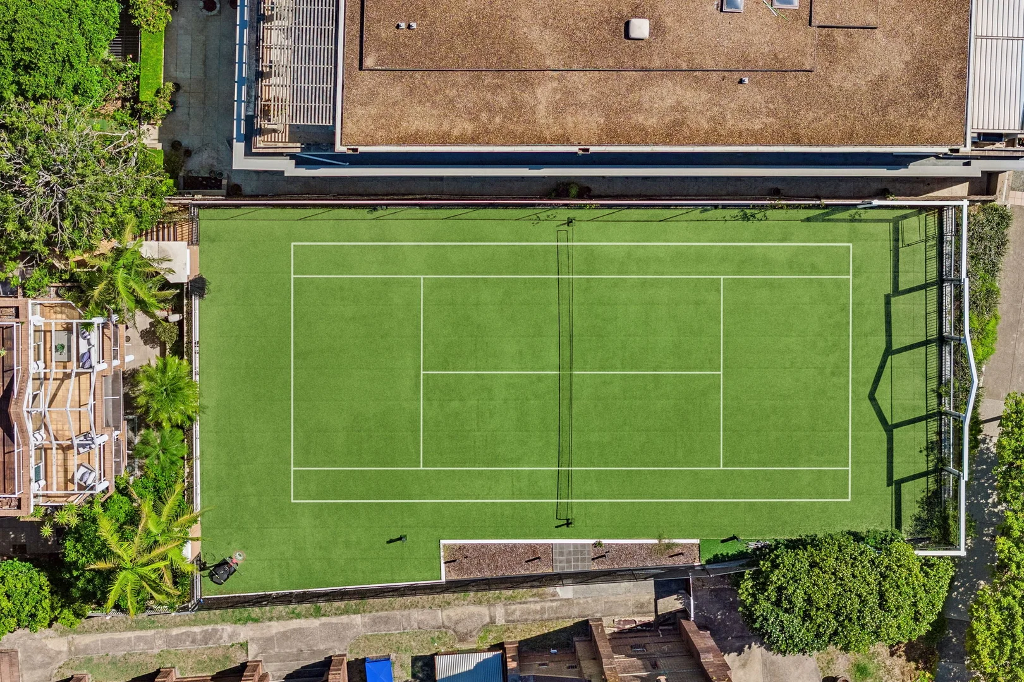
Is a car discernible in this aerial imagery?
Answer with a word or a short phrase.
No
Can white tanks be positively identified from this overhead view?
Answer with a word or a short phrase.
No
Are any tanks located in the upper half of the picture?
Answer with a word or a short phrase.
No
